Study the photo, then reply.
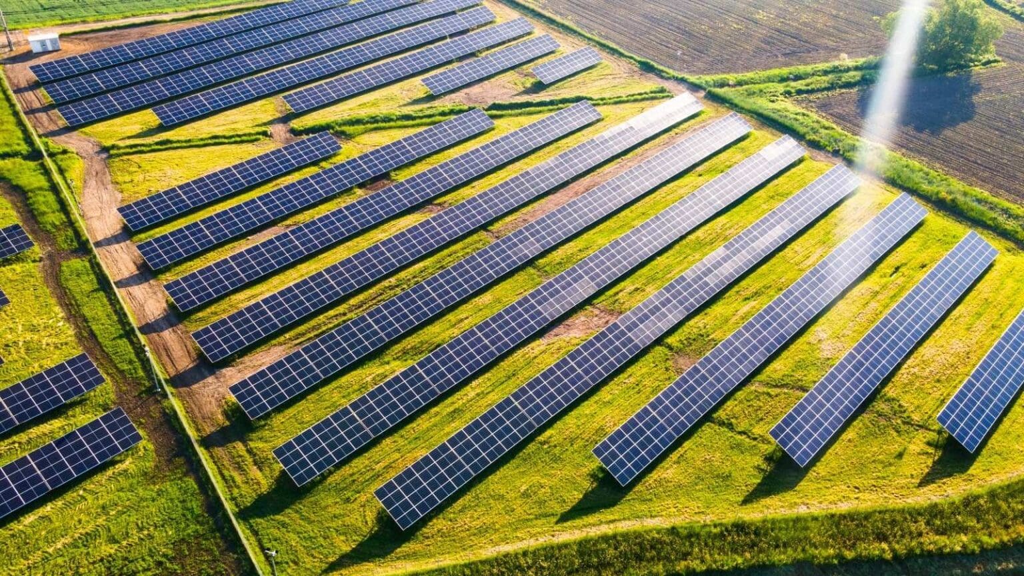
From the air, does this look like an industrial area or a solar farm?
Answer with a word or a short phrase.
solar farm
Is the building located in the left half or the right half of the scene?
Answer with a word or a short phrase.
left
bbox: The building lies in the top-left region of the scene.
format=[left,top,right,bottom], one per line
[27,31,62,53]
